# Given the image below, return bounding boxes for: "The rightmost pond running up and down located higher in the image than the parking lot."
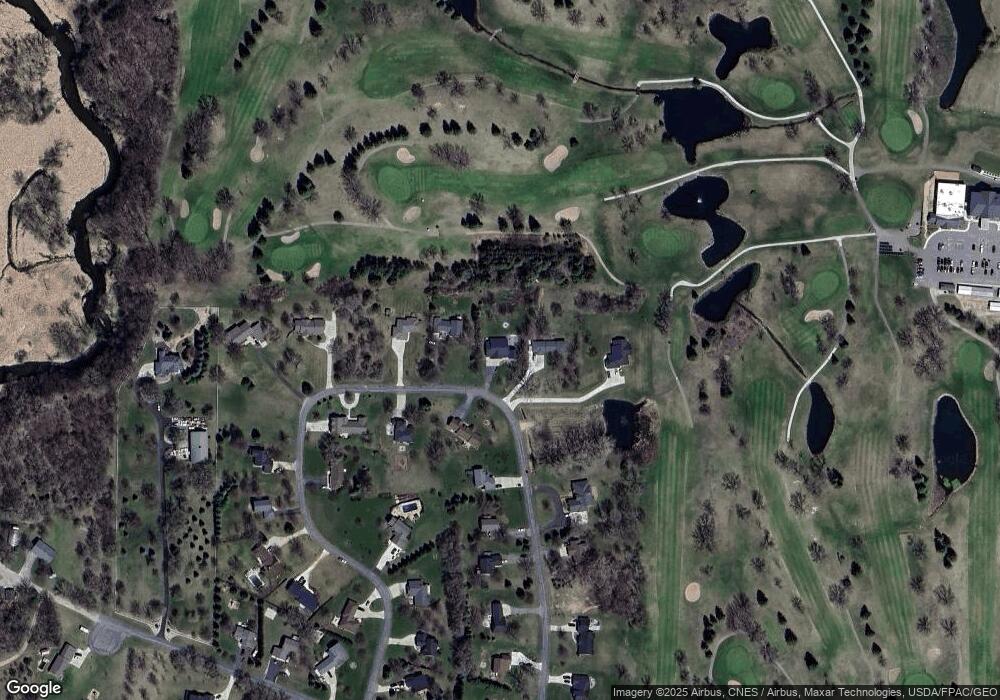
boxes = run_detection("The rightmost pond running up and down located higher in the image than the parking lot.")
[939,0,990,109]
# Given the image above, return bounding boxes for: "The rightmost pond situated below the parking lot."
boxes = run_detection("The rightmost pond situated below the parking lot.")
[934,394,977,494]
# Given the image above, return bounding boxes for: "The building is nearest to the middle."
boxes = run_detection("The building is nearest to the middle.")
[484,337,520,359]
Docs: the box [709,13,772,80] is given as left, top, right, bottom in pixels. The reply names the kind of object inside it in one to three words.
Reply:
pond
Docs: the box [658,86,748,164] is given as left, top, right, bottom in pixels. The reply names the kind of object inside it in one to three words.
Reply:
pond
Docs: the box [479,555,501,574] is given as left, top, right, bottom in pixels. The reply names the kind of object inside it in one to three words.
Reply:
house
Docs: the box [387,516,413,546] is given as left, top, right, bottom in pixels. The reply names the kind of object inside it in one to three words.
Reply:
house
